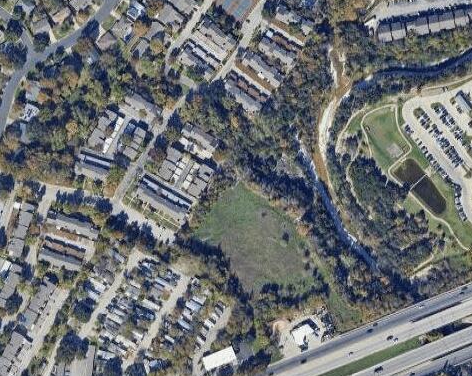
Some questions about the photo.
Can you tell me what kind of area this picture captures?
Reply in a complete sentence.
The picture captures a residential area.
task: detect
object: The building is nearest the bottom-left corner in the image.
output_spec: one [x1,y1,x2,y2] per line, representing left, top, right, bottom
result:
[0,332,34,376]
